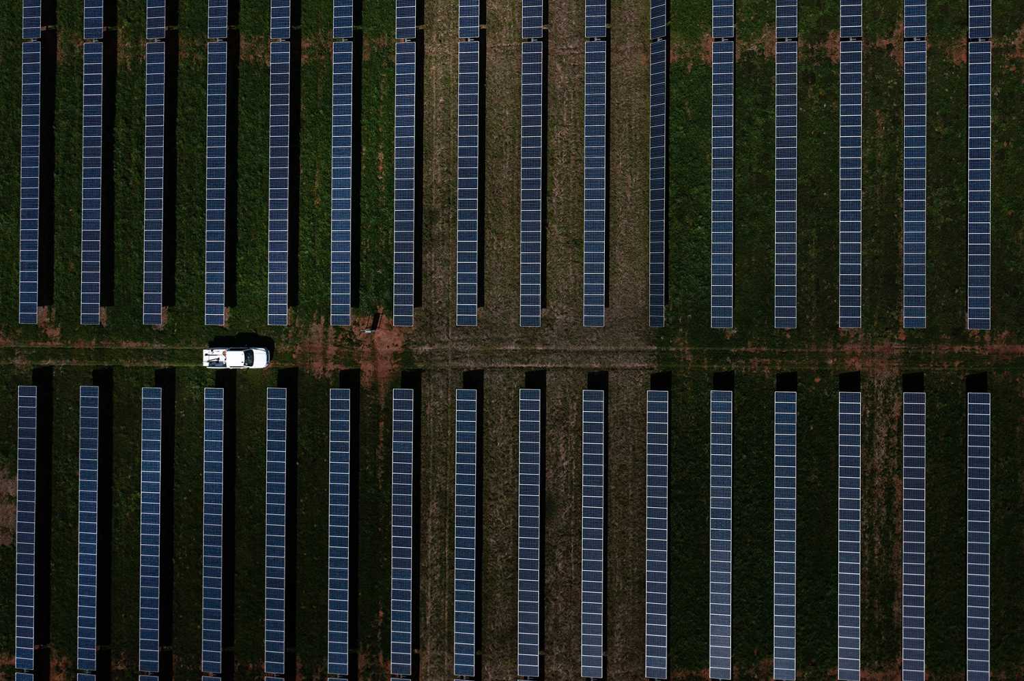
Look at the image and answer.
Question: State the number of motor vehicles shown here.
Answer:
1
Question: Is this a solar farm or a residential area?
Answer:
solar farm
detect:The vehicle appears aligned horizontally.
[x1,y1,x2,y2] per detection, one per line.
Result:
[203,346,270,370]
